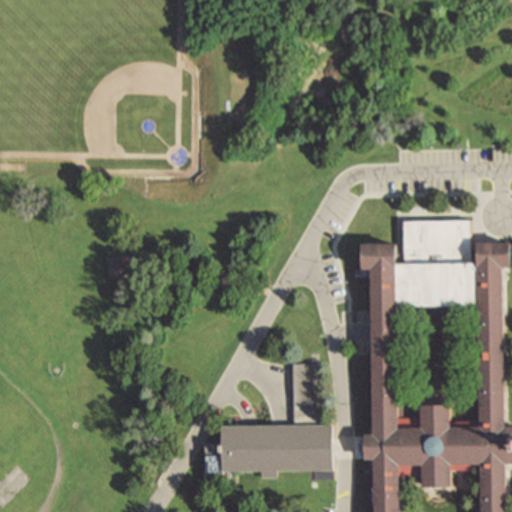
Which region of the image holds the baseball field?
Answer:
top left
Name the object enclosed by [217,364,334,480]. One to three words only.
building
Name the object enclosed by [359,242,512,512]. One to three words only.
building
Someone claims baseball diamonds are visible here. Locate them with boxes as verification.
[0,0,200,178]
